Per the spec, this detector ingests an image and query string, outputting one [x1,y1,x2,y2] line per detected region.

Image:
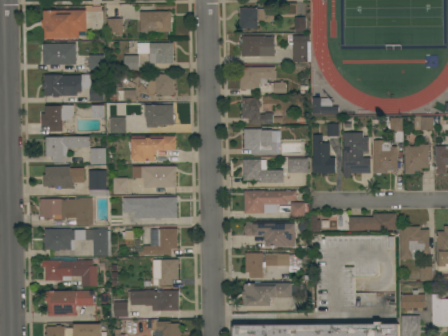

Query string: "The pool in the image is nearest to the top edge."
[78,119,100,131]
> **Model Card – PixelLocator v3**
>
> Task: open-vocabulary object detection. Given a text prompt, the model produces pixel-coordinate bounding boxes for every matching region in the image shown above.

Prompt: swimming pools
[78,119,100,131]
[98,198,108,220]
